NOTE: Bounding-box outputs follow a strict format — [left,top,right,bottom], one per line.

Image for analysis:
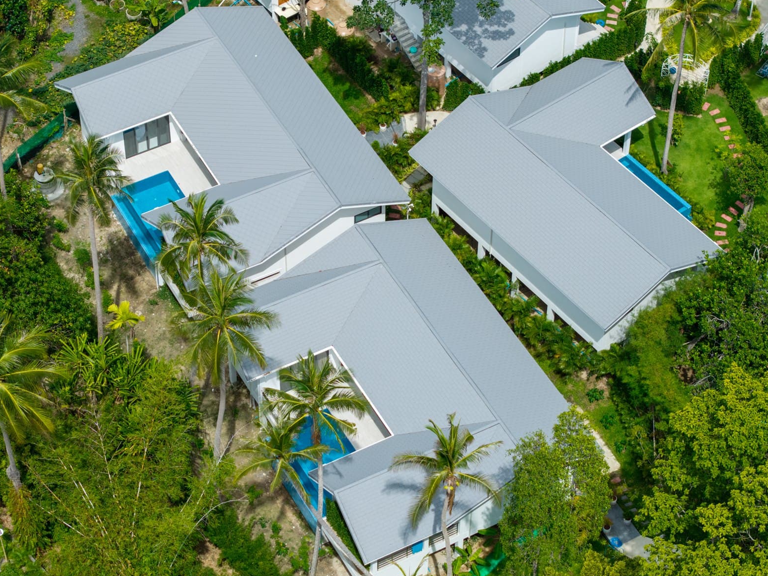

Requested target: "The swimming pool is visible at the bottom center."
[268,408,358,553]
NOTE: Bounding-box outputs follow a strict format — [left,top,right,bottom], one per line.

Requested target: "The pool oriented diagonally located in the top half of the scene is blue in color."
[618,155,694,222]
